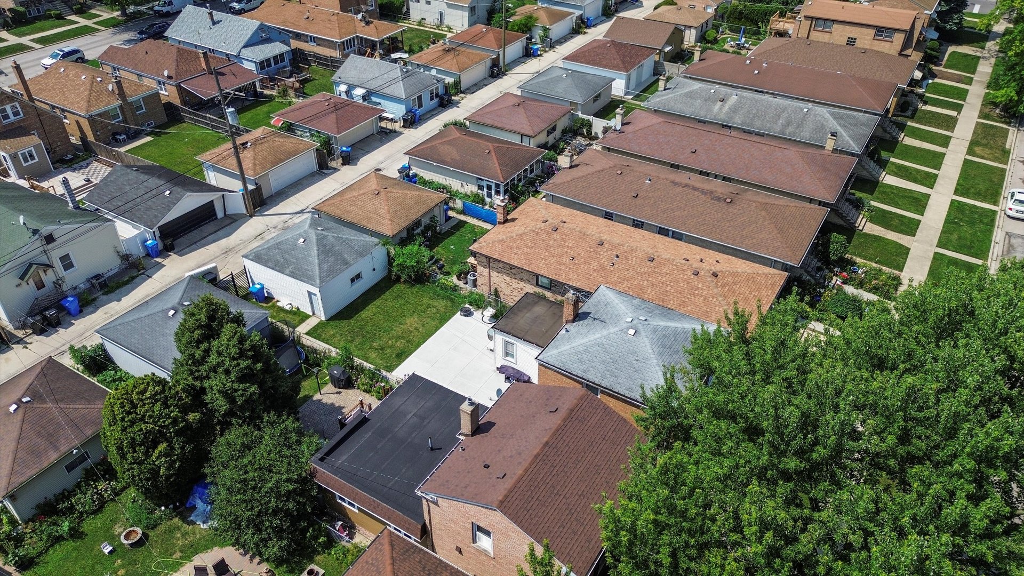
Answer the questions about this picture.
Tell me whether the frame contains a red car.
No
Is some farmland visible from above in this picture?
No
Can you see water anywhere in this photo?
No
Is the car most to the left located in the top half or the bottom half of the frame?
top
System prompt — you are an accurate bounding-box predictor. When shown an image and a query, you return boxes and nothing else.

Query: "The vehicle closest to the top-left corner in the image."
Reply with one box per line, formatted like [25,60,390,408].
[42,45,89,70]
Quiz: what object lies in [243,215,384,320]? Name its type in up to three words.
building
